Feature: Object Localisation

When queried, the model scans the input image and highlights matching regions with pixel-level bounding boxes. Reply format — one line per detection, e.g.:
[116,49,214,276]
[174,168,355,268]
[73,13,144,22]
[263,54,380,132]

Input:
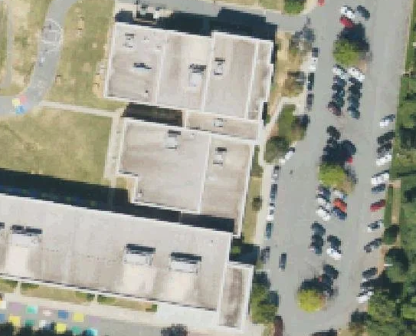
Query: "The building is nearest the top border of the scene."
[103,22,275,131]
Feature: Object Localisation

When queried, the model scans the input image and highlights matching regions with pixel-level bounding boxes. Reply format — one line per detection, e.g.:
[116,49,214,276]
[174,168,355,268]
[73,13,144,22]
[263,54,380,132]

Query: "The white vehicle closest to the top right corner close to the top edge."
[340,6,355,18]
